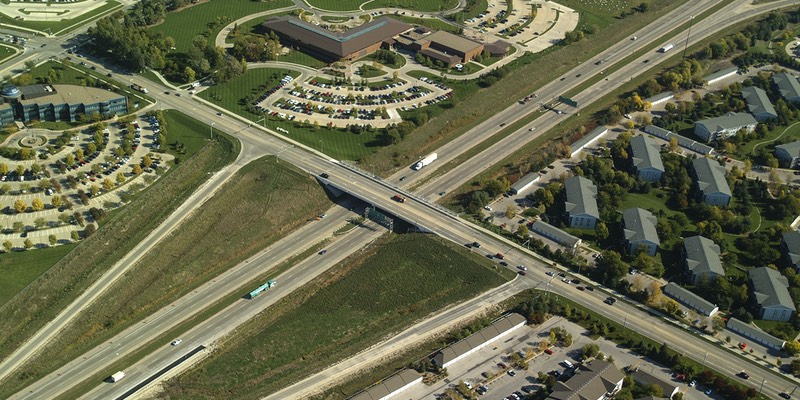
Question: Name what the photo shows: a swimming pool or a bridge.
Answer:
bridge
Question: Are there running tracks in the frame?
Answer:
No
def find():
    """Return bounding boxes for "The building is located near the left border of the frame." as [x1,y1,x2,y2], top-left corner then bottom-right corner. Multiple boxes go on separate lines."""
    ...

[0,84,129,132]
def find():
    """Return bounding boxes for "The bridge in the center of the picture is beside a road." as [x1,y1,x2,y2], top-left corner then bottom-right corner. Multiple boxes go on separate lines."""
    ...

[326,154,484,230]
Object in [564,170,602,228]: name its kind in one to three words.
building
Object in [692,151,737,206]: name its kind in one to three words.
building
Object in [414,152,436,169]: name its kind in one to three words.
vehicle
